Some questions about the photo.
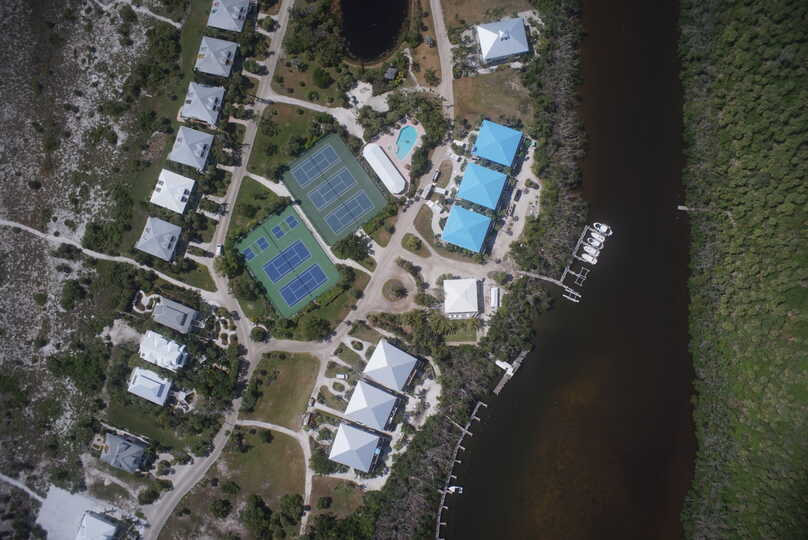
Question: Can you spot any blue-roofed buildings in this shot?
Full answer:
Yes, you can see a blue-roofed building in this photo.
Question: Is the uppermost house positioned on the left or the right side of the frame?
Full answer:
You can find the uppermost house on the left side of the picture.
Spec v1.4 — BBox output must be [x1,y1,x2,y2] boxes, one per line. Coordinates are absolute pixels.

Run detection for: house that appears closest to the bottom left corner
[77,510,126,540]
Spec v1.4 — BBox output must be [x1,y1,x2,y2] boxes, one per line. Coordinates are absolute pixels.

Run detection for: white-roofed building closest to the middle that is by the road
[443,279,478,317]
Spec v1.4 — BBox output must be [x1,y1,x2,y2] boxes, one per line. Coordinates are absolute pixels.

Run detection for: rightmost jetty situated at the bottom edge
[436,402,488,540]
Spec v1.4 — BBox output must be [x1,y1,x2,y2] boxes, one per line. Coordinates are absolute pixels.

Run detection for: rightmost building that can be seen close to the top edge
[477,17,528,67]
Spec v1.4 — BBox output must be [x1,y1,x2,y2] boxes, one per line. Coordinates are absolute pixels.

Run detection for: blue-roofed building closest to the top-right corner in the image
[473,119,524,168]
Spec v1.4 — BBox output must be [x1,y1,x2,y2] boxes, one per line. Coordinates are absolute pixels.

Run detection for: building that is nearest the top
[208,0,256,36]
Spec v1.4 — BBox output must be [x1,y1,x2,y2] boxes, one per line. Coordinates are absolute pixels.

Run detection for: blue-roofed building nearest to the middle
[441,205,493,253]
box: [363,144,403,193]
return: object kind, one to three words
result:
building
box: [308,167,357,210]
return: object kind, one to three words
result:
tennis court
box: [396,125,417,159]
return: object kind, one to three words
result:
swimming pool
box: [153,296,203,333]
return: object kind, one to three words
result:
house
